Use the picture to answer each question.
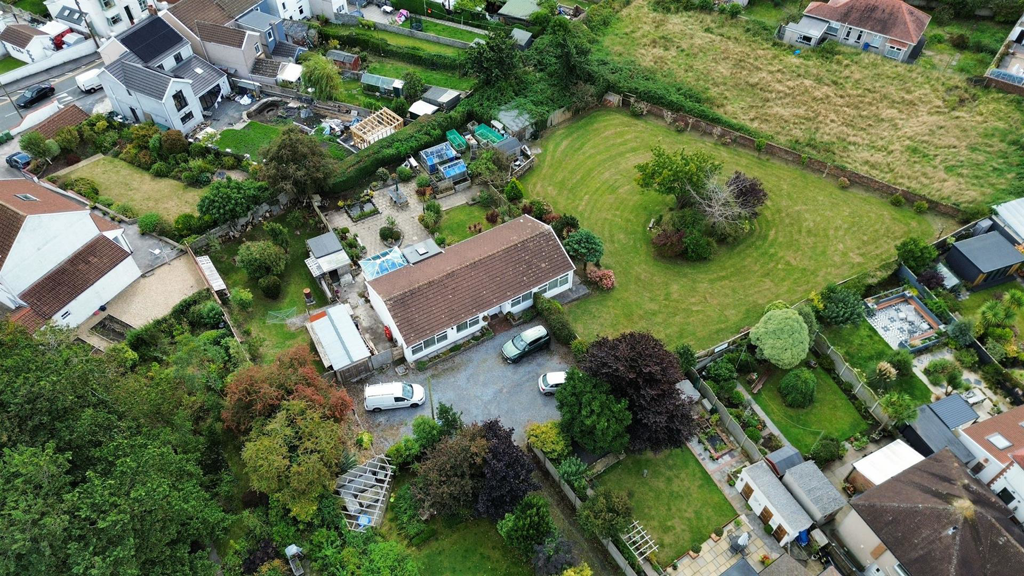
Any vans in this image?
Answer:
Yes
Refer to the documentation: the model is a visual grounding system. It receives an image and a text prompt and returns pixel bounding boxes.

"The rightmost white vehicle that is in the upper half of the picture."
[69,65,102,92]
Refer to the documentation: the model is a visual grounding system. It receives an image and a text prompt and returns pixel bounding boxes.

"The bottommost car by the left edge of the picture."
[0,148,34,172]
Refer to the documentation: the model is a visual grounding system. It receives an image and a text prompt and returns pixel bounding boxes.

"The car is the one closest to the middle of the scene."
[498,327,557,366]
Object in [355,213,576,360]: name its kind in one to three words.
house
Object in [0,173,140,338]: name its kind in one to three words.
house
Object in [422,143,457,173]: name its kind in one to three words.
greenhouse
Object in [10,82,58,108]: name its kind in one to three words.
car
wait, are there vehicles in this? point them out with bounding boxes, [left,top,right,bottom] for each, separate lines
[533,370,586,402]
[0,148,34,172]
[10,82,58,108]
[364,383,424,418]
[498,327,557,366]
[69,65,102,92]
